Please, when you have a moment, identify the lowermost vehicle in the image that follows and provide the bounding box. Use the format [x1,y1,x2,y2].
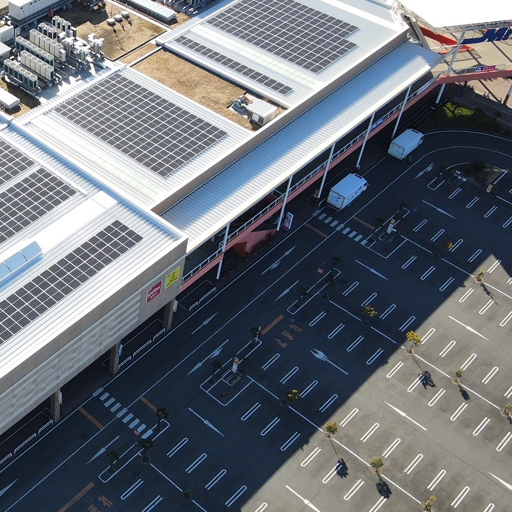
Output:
[330,168,374,207]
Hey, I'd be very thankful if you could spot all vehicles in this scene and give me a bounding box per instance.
[390,120,430,156]
[330,168,374,207]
